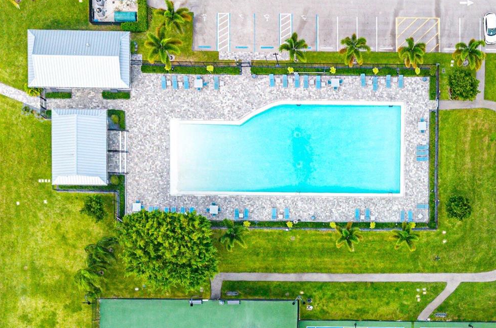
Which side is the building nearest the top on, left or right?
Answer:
left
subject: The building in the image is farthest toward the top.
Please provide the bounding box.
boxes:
[27,29,132,90]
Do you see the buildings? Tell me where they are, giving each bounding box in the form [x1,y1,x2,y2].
[27,29,132,90]
[51,108,110,186]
